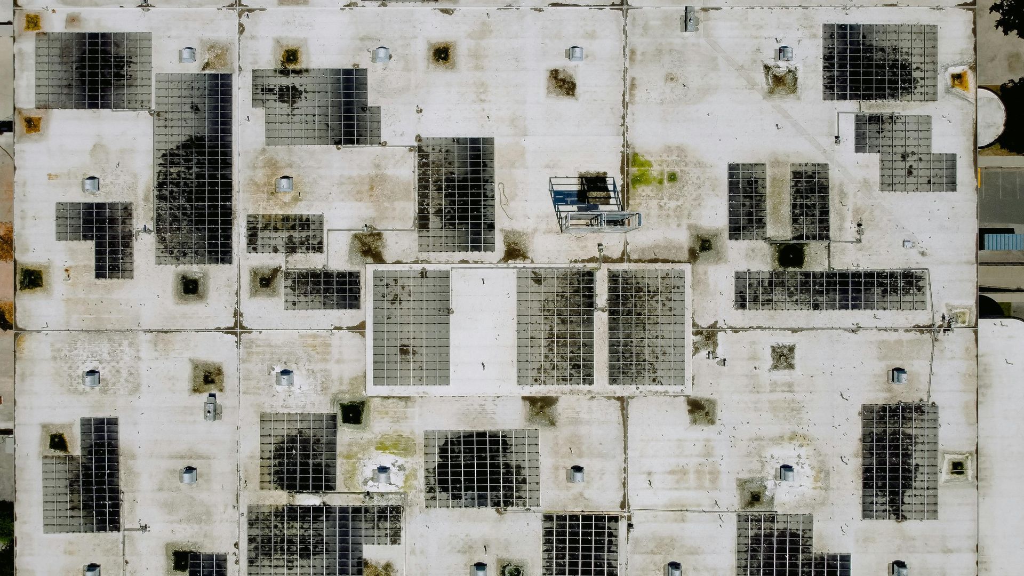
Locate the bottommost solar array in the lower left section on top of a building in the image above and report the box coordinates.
[188,552,228,576]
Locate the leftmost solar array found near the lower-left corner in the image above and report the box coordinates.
[41,417,120,533]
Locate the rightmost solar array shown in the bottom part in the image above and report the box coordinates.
[862,404,941,520]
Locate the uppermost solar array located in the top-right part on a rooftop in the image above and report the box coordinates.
[822,22,940,101]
